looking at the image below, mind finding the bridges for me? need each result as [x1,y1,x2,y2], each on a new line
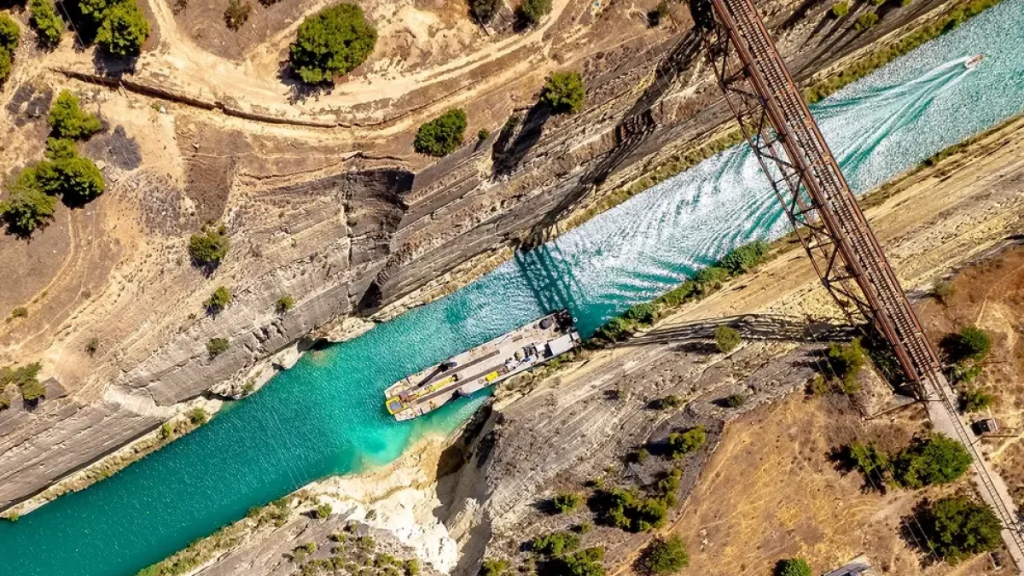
[683,0,946,400]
